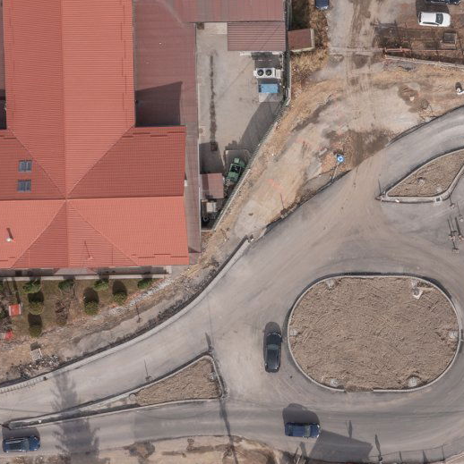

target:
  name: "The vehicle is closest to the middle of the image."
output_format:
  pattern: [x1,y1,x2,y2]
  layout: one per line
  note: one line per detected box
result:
[223,154,247,185]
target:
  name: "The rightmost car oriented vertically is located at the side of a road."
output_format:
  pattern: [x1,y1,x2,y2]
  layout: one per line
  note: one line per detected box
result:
[262,334,280,374]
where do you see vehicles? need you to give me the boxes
[262,334,280,374]
[417,9,451,28]
[283,422,320,441]
[0,435,39,454]
[223,154,247,185]
[313,0,329,8]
